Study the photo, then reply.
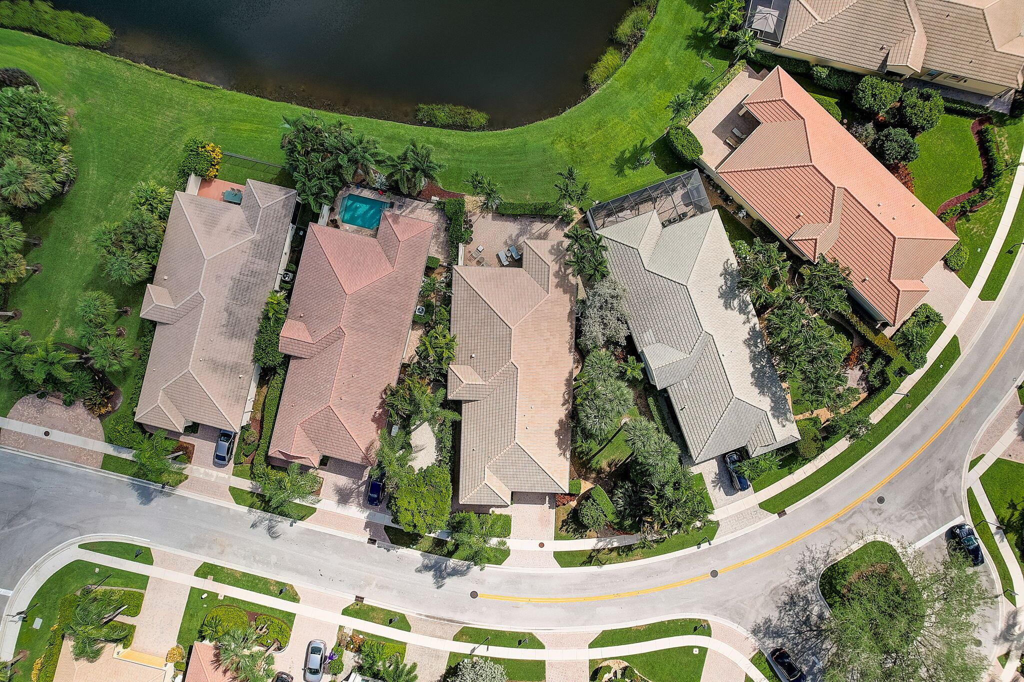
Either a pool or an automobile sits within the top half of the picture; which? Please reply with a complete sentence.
Looking within the top half of the picture, you will find a pool.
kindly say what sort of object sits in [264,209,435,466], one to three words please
house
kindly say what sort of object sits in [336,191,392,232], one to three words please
swimming pool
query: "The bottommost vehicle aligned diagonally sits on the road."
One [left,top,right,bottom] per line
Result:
[772,646,809,682]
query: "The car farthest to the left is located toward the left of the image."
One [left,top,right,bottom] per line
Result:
[213,429,239,468]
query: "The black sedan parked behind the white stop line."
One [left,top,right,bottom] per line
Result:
[949,519,985,568]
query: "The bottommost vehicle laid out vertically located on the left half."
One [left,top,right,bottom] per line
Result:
[303,638,326,682]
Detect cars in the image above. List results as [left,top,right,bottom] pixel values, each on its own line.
[364,467,389,506]
[303,638,326,682]
[721,449,752,494]
[772,646,809,682]
[949,519,985,568]
[276,671,295,682]
[348,670,385,682]
[213,429,239,468]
